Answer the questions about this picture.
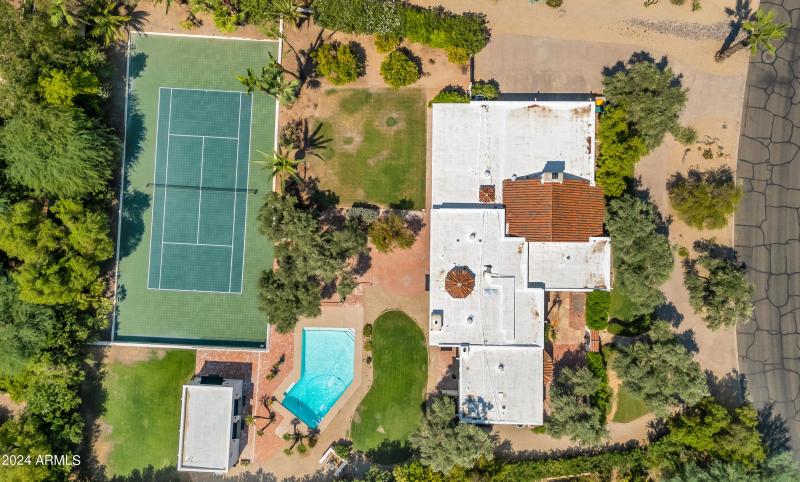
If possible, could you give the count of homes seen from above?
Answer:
2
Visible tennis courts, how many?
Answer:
1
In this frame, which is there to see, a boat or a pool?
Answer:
pool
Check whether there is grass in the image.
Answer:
Yes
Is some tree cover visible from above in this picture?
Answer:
Yes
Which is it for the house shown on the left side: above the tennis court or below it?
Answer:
below it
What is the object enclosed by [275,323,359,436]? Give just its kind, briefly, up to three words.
swimming pool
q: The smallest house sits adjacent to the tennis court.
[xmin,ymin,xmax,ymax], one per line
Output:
[177,377,242,473]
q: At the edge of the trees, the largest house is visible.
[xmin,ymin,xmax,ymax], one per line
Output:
[426,98,612,425]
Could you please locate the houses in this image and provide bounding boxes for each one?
[426,98,612,425]
[177,377,242,473]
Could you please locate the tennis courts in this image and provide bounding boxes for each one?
[118,37,280,346]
